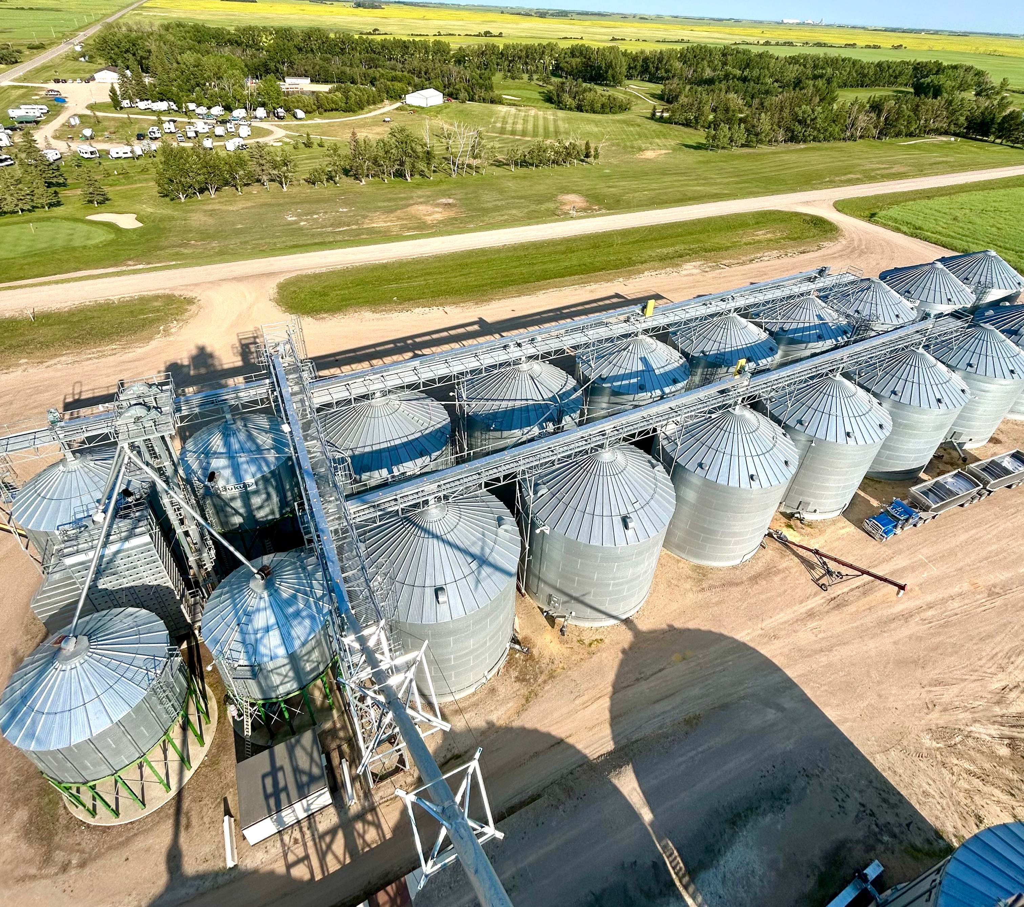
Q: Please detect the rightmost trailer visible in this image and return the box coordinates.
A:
[966,447,1024,493]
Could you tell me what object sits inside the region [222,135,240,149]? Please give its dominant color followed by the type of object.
white vehicle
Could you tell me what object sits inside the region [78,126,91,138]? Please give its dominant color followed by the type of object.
white vehicle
